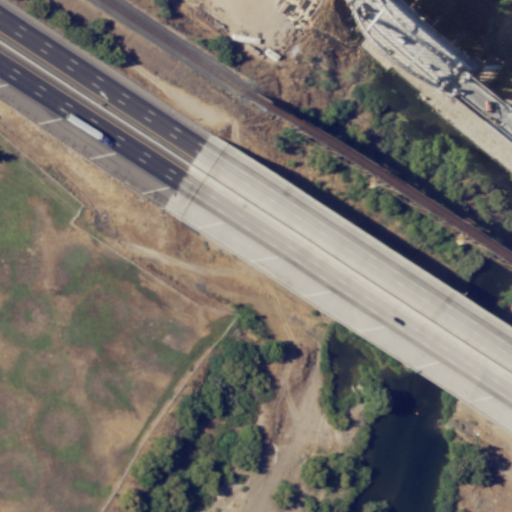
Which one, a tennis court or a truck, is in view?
truck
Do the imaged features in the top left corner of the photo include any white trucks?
Yes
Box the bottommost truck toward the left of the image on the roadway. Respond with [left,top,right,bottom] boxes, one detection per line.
[66,114,110,146]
